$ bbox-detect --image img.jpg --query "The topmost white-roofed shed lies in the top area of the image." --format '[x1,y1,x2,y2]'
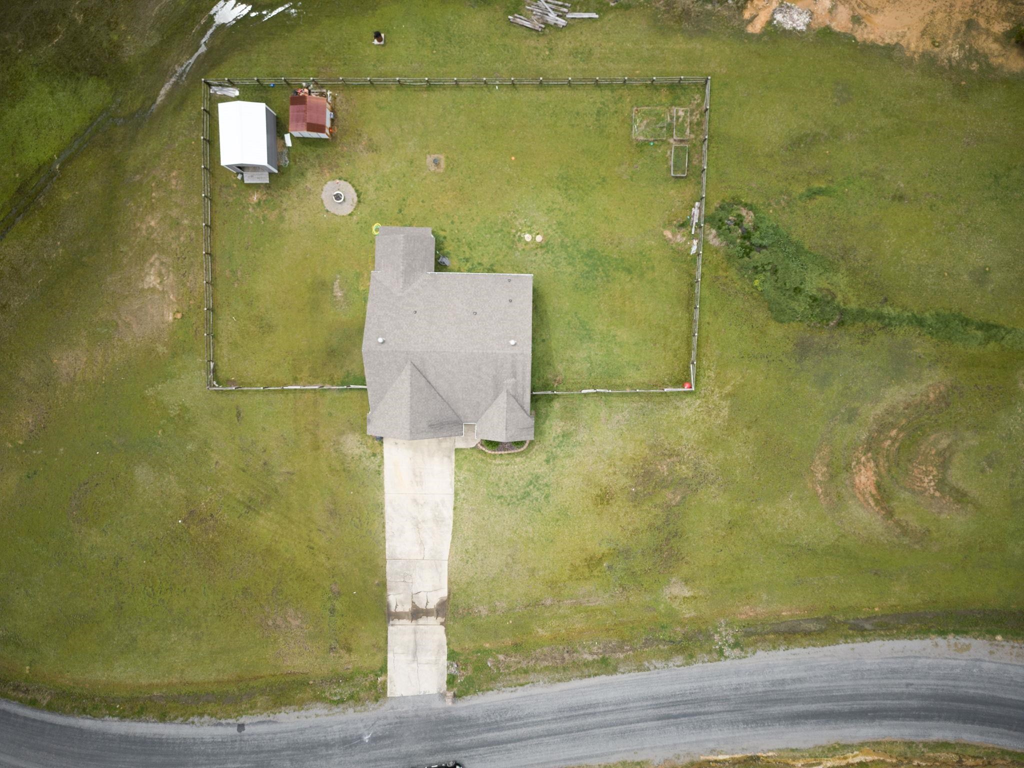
[218,100,277,173]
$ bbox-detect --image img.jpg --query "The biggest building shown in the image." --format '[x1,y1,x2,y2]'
[362,227,534,441]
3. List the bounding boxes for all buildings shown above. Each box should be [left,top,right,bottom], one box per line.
[218,100,277,173]
[289,95,331,139]
[362,227,534,441]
